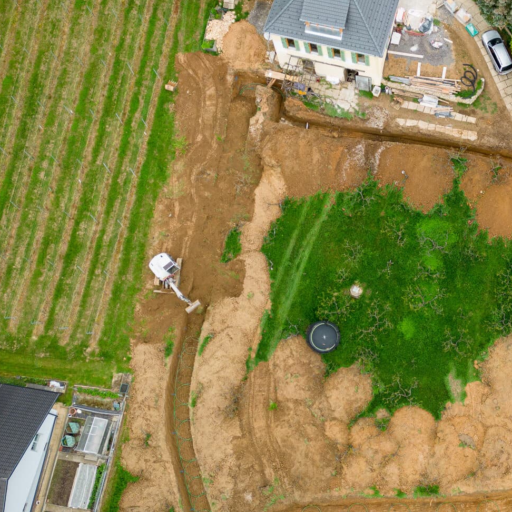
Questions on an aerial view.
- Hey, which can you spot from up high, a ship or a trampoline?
trampoline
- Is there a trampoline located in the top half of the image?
No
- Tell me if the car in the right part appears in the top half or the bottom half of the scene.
top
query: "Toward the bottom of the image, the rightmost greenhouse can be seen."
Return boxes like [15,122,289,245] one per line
[74,417,107,454]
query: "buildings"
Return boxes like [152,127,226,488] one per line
[74,417,107,454]
[0,381,63,512]
[259,0,399,88]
